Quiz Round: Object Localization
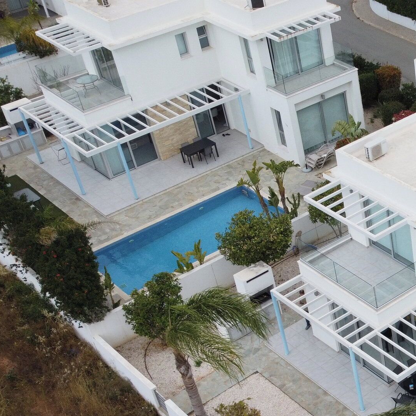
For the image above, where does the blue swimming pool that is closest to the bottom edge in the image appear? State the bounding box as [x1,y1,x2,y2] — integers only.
[100,173,296,290]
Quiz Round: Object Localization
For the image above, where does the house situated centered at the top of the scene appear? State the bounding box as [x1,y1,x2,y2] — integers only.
[22,0,360,200]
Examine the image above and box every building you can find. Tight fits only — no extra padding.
[22,0,360,200]
[273,110,416,413]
